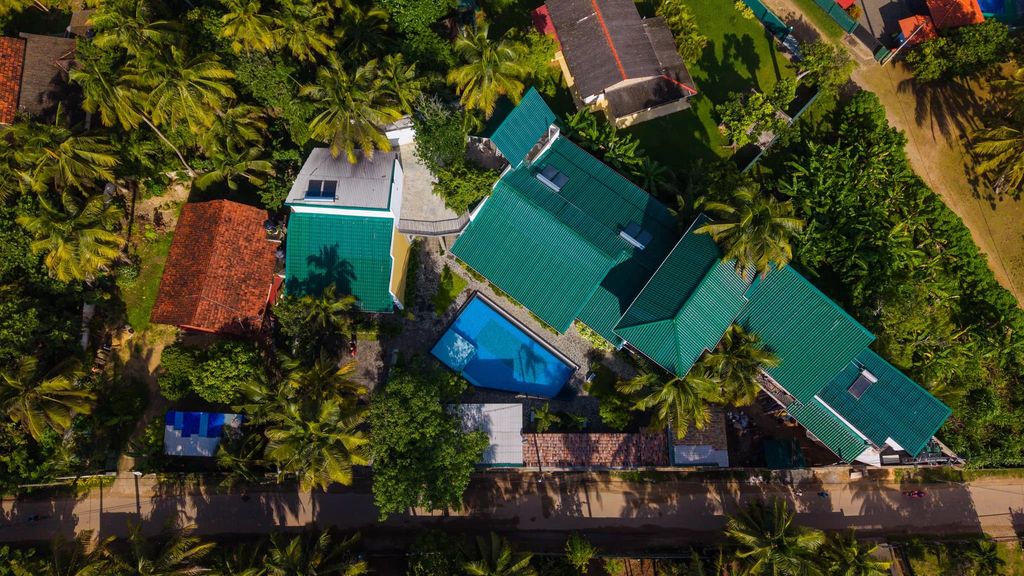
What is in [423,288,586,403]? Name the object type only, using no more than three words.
swimming pool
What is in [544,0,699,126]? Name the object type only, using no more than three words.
house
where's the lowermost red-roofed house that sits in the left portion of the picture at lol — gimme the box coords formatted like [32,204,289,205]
[150,199,281,335]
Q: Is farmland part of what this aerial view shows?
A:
No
